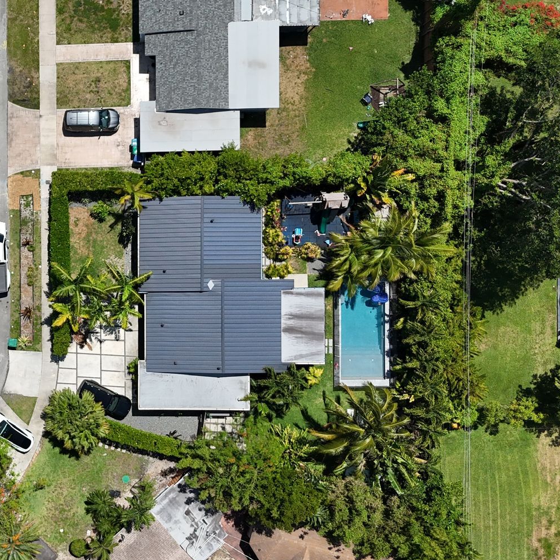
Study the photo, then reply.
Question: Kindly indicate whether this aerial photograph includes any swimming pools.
Yes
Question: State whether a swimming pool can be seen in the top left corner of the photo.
No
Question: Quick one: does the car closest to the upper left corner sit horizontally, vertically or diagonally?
horizontally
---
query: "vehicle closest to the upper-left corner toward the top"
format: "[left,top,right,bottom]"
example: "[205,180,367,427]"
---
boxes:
[62,107,120,136]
